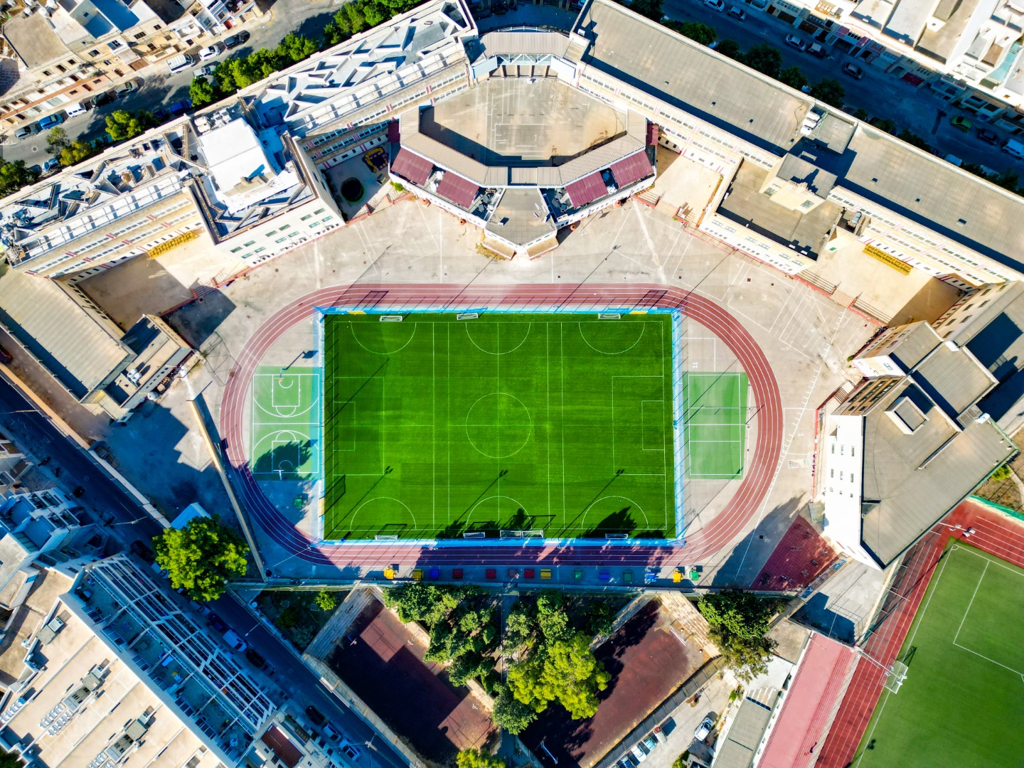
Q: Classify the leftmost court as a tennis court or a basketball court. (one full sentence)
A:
The leftmost court appears to be a basketball court.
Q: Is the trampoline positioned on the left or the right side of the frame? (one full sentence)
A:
You can find the trampoline on the left side of the picture.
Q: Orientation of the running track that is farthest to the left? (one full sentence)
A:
The running track that is farthest to the left is oriented horizontally.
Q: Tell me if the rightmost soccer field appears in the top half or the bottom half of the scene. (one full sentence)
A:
The rightmost soccer field is in the bottom half of the image.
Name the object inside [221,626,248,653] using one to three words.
vehicle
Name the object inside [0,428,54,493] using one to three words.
house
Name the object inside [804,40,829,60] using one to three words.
car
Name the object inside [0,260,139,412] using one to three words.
building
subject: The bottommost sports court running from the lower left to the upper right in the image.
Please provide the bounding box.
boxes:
[518,601,709,768]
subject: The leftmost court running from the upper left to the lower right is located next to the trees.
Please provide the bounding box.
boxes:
[327,596,500,768]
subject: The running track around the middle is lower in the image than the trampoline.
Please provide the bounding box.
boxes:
[222,284,784,566]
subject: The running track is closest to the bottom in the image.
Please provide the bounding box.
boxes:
[815,499,1024,768]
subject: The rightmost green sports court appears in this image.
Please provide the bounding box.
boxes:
[684,372,748,480]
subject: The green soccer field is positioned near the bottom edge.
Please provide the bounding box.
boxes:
[849,538,1024,768]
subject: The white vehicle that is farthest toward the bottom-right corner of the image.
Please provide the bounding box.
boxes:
[694,715,716,742]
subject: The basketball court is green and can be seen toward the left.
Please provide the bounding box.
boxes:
[252,367,319,480]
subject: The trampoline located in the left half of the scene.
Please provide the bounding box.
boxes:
[340,177,363,201]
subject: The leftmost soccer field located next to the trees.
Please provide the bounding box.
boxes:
[317,307,684,546]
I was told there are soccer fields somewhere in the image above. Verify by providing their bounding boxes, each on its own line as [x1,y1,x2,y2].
[849,538,1024,768]
[317,307,684,546]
